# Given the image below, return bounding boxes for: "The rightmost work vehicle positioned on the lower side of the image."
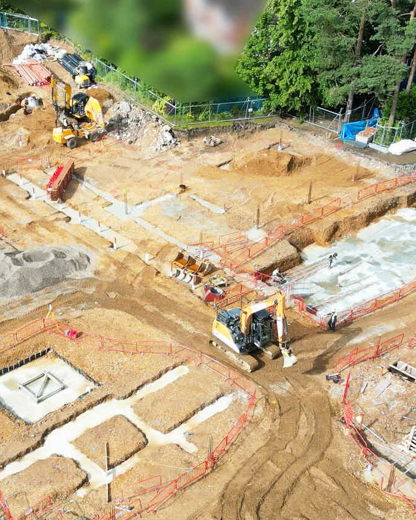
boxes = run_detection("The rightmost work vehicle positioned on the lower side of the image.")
[201,288,303,377]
